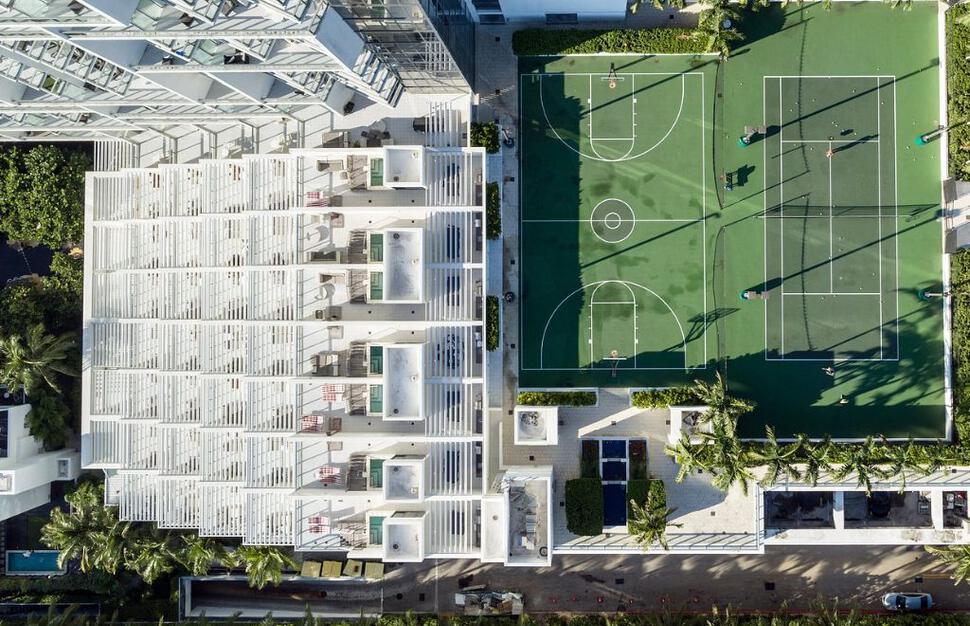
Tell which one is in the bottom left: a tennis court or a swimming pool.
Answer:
swimming pool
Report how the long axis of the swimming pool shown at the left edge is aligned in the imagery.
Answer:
from side to side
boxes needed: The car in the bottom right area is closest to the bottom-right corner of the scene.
[882,588,932,612]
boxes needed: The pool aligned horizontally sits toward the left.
[5,549,67,575]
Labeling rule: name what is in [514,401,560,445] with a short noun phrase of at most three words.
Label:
building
